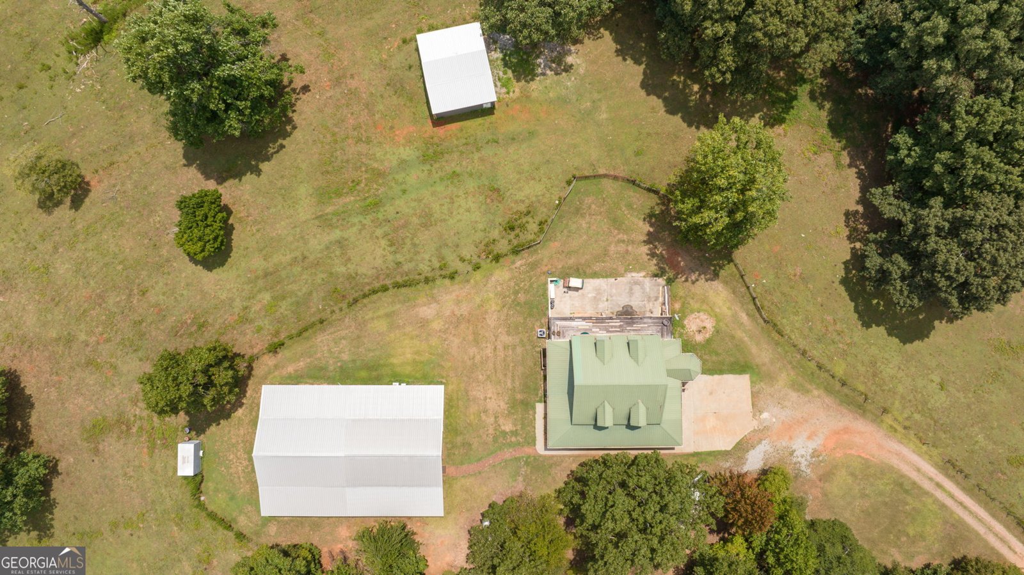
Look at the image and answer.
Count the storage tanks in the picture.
zero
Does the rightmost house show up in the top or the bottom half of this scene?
bottom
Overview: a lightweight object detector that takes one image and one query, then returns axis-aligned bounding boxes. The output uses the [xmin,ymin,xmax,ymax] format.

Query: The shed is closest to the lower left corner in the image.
[178,441,204,476]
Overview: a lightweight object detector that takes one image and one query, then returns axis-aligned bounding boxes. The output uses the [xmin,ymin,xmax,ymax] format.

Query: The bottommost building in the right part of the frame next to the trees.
[546,334,701,448]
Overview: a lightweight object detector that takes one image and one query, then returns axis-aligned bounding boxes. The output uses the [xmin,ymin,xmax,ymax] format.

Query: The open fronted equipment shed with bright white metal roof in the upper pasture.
[416,22,496,119]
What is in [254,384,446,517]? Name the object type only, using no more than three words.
barn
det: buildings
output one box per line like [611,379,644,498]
[416,22,496,119]
[546,334,701,448]
[254,384,446,517]
[178,441,204,476]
